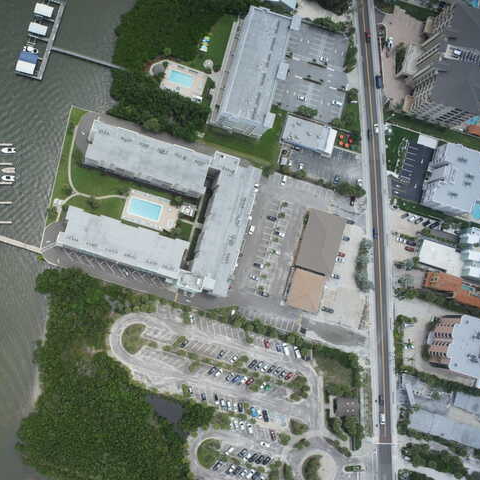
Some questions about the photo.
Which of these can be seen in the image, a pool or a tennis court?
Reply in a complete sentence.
The one in the frame is a pool.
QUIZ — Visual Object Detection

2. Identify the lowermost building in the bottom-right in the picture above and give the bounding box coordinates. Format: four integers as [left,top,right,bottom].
[406,411,480,448]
